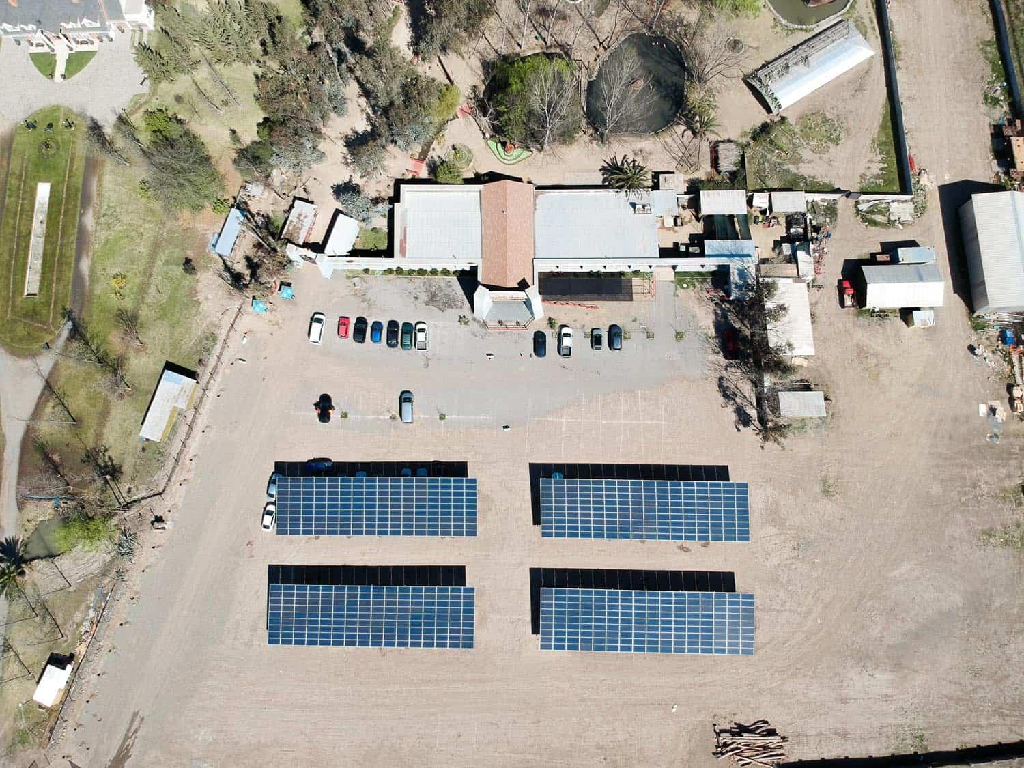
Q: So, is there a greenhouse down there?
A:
Yes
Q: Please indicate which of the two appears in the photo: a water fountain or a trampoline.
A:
water fountain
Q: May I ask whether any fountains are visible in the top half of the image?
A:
Yes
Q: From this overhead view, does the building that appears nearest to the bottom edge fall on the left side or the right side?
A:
left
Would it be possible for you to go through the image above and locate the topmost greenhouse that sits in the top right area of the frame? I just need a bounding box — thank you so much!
[749,22,872,114]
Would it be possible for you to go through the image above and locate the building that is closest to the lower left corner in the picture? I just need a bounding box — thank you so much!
[33,660,82,706]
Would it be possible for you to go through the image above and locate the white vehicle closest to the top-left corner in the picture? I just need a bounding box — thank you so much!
[309,313,326,344]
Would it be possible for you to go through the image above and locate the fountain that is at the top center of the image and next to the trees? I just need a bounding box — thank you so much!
[486,138,533,164]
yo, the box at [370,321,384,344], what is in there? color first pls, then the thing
blue car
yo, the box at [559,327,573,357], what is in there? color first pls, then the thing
white vehicle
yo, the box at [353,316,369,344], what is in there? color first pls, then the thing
black car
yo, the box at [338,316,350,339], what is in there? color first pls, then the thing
red vehicle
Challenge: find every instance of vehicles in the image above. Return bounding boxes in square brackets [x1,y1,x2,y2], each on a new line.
[305,460,335,475]
[338,316,350,339]
[263,502,276,531]
[309,313,326,344]
[370,321,384,344]
[416,471,428,477]
[433,465,447,495]
[559,327,573,357]
[400,323,414,350]
[534,331,546,358]
[401,392,414,422]
[591,328,603,351]
[609,325,623,352]
[415,322,428,351]
[387,321,400,349]
[353,316,369,344]
[313,394,337,423]
[723,328,738,360]
[840,280,856,309]
[264,473,281,502]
